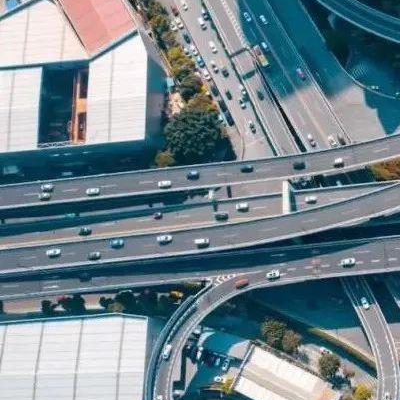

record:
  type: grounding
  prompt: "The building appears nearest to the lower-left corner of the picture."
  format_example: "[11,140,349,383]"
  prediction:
[0,314,163,400]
